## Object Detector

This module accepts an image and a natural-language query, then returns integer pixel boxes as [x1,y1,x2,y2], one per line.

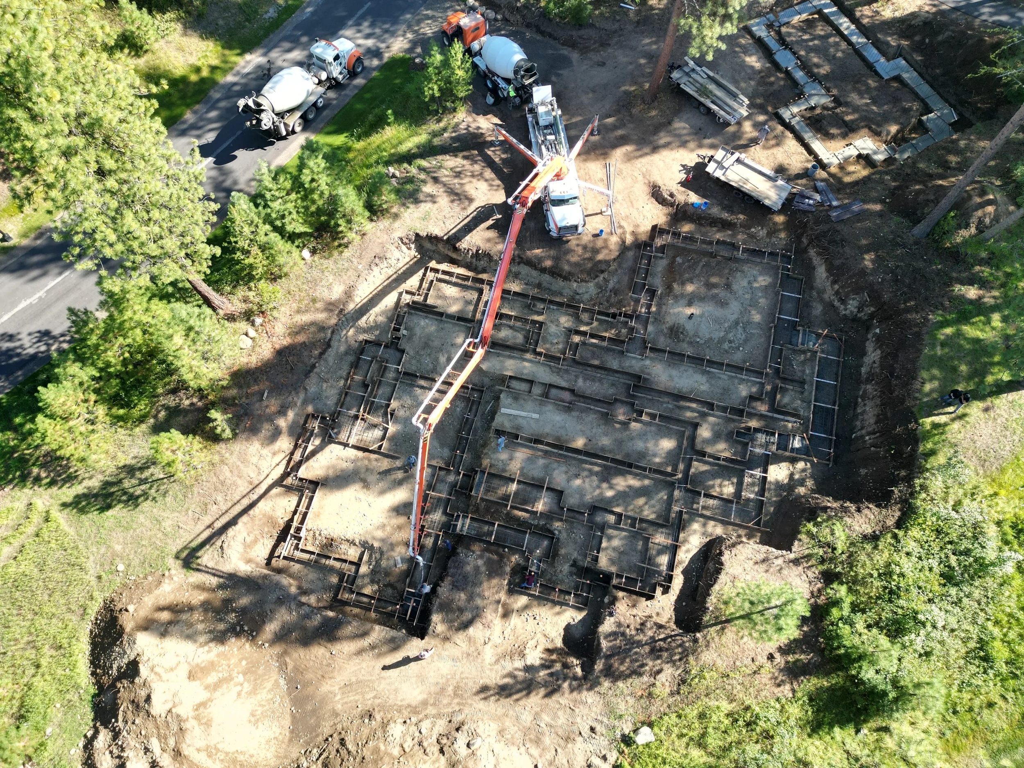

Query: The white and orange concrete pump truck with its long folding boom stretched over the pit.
[404,64,615,584]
